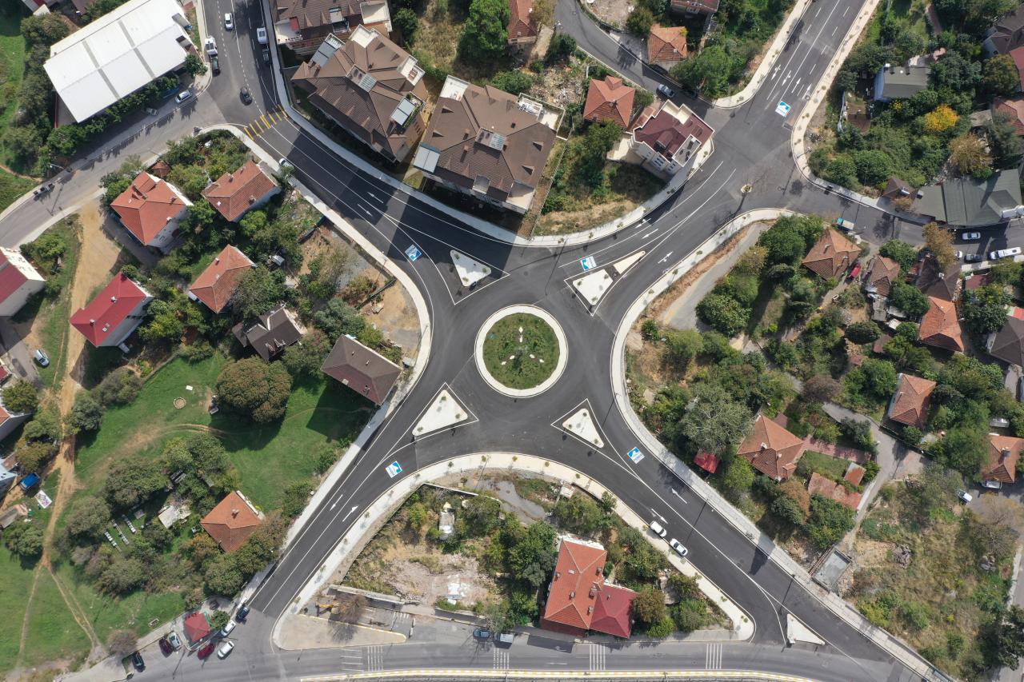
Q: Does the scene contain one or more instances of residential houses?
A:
Yes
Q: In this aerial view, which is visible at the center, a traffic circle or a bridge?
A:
traffic circle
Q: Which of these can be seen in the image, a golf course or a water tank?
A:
water tank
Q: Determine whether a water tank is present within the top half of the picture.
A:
No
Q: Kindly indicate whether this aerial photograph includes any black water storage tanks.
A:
No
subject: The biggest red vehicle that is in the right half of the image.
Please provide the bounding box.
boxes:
[848,262,863,280]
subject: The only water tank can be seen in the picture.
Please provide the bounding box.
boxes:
[817,550,854,591]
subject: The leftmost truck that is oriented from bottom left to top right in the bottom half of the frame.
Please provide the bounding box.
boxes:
[12,473,40,494]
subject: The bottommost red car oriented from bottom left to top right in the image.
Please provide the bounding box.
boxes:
[195,643,214,659]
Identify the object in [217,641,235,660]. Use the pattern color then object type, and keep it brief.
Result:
white vehicle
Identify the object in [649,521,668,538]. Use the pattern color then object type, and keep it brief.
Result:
white car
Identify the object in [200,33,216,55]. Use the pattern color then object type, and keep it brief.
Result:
white vehicle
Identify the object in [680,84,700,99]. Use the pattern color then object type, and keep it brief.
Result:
black car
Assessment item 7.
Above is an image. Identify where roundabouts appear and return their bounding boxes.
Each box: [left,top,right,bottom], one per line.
[473,304,569,399]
